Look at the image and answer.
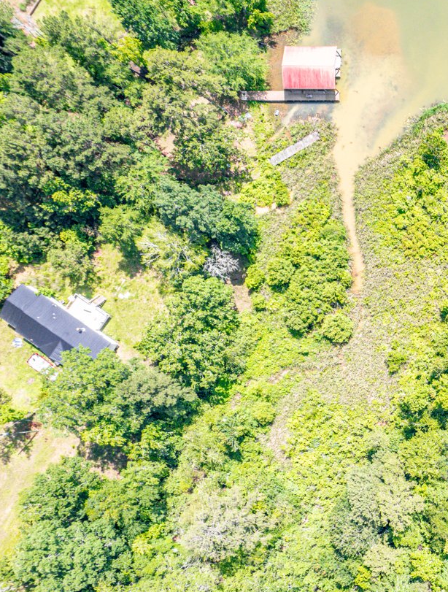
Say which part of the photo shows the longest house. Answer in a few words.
left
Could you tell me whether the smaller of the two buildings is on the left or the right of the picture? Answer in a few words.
right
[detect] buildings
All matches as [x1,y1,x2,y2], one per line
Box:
[280,46,345,99]
[1,284,119,372]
